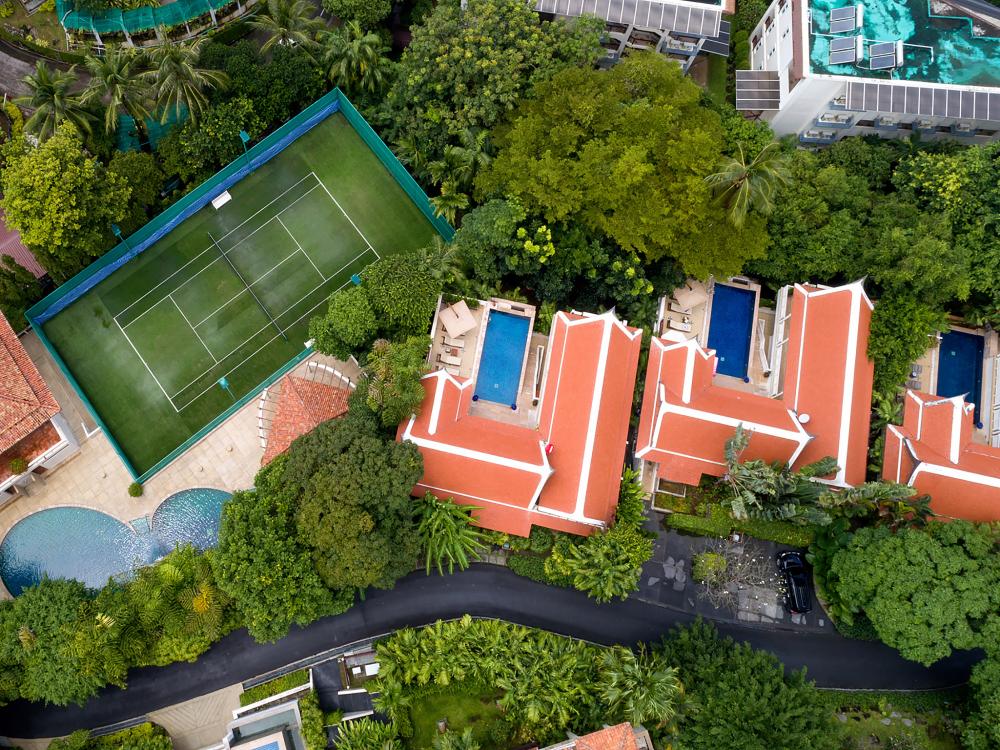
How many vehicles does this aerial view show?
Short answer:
1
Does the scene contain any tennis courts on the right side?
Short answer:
No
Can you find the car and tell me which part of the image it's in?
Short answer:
bottom right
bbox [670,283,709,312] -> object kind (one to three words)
umbrella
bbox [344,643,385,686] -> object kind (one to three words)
shed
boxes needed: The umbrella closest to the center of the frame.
[440,300,478,338]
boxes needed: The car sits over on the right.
[777,552,811,609]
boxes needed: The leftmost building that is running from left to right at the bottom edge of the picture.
[195,699,309,750]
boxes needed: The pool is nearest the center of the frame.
[471,299,535,411]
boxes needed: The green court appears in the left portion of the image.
[42,110,443,467]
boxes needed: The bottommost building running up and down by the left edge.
[0,307,89,509]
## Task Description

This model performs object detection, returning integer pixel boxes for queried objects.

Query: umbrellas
[670,283,709,312]
[440,300,478,338]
